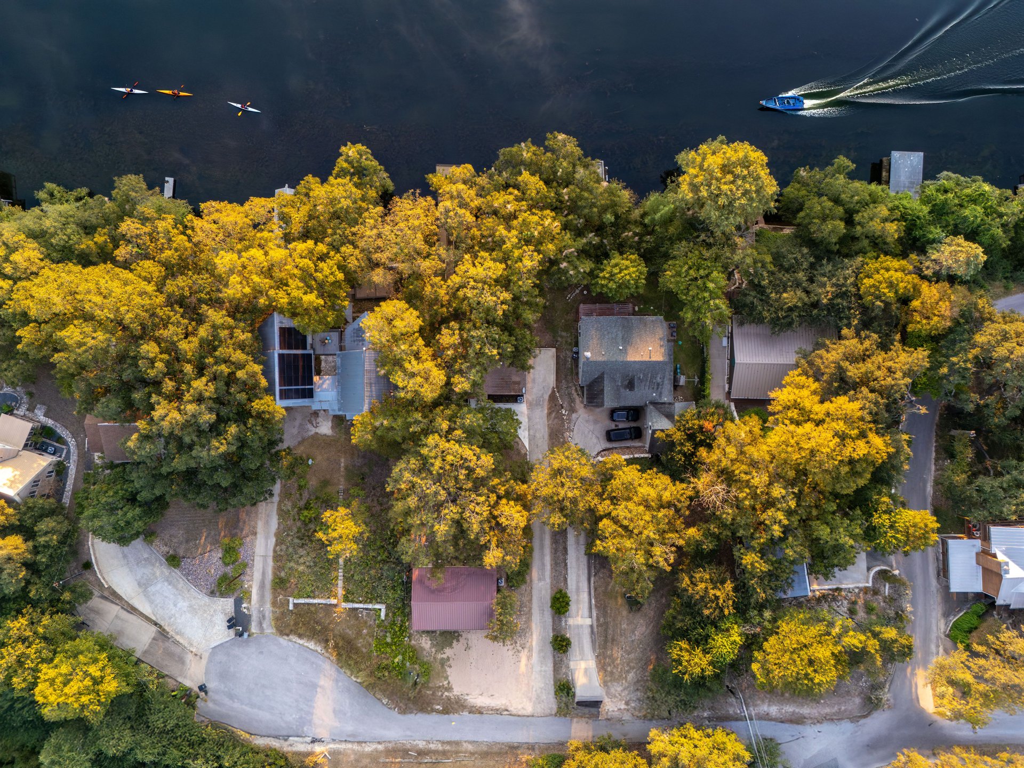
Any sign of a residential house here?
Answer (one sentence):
Yes, the photo shows a residential house.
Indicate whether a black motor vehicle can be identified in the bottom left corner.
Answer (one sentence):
No, I can find no black motor vehicle in the bottom left corner.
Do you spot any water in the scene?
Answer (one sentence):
Yes, the picture does contain water.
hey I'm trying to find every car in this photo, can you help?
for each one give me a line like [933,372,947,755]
[606,425,643,443]
[610,408,641,424]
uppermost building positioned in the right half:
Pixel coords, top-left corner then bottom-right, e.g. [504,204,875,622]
[876,151,924,206]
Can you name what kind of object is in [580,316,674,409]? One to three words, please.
house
